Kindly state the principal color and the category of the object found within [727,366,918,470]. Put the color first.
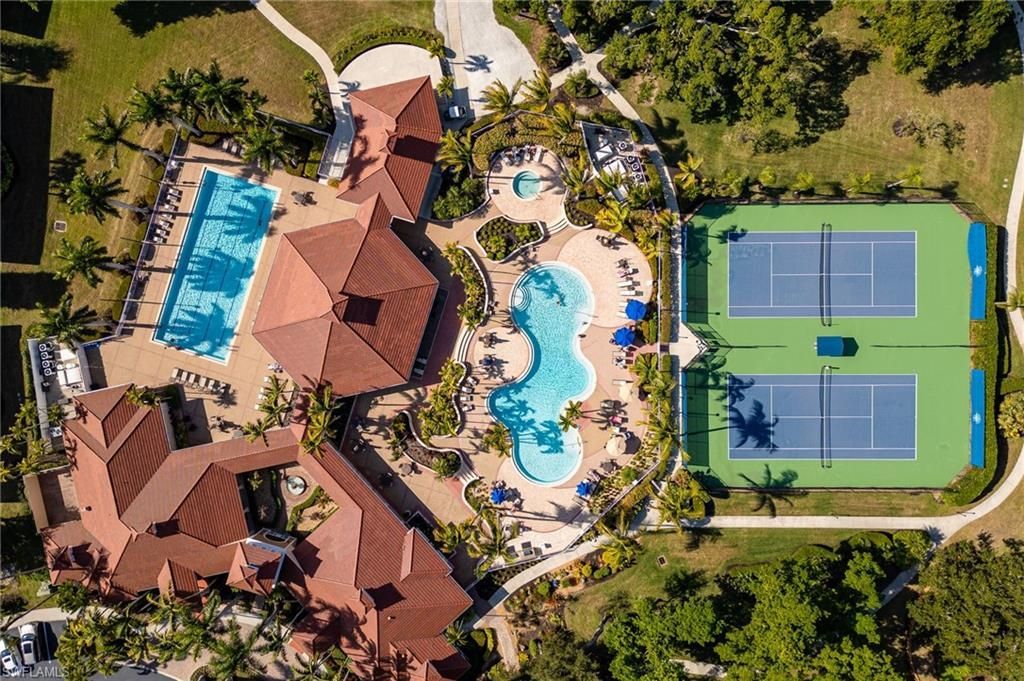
blue tennis court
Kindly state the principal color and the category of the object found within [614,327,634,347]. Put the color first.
blue umbrella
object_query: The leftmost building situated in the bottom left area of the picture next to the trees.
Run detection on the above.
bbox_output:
[39,383,473,681]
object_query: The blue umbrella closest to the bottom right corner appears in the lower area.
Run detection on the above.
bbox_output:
[575,481,590,496]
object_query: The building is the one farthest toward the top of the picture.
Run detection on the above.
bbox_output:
[336,74,442,232]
